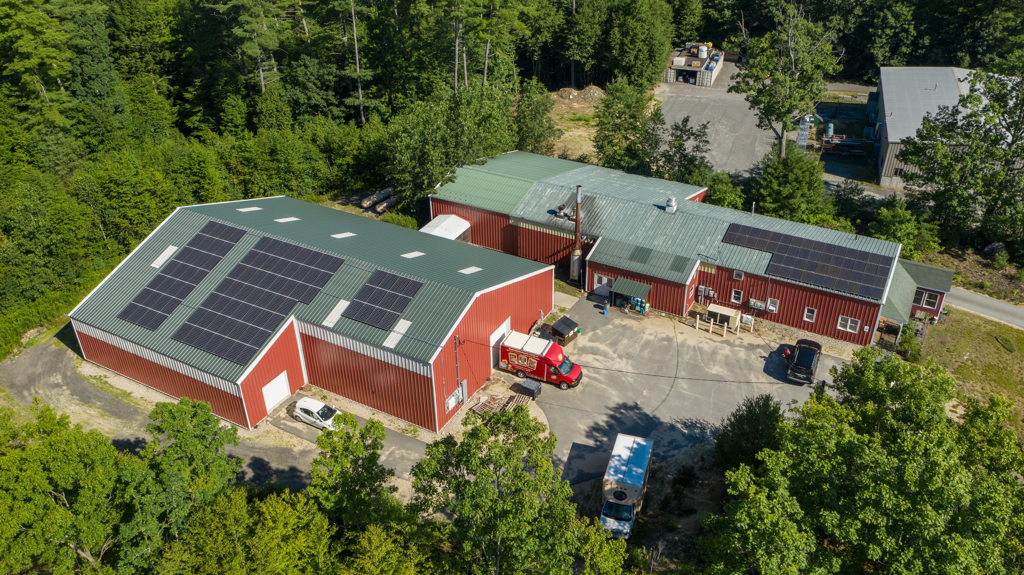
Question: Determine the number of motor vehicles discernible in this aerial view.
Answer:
four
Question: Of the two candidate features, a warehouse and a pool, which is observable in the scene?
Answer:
warehouse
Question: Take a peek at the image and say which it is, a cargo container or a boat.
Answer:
cargo container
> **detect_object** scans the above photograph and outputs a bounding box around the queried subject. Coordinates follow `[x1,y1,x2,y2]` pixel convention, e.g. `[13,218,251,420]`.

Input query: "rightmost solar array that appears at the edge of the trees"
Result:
[723,222,894,299]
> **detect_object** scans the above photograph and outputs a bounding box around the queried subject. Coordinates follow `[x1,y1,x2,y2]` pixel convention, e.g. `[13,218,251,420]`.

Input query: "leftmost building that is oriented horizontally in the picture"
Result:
[66,195,556,435]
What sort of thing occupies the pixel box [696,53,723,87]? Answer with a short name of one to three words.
shipping container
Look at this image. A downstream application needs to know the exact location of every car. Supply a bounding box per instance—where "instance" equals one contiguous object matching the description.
[789,342,822,384]
[292,398,341,428]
